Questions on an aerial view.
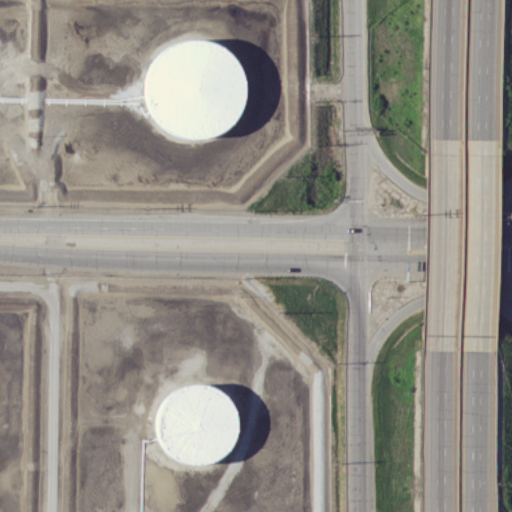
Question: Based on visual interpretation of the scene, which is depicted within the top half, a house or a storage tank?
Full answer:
What appears within the top half is a storage tank.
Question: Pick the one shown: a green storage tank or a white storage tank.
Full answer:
Of the two, only a white storage tank appears.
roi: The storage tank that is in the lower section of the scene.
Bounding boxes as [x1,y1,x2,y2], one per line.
[154,384,240,467]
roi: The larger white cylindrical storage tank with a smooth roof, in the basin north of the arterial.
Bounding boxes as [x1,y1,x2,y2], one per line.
[144,40,250,142]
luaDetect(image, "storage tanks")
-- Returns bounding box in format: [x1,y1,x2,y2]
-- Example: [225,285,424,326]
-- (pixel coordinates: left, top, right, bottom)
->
[154,384,240,467]
[144,40,250,142]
